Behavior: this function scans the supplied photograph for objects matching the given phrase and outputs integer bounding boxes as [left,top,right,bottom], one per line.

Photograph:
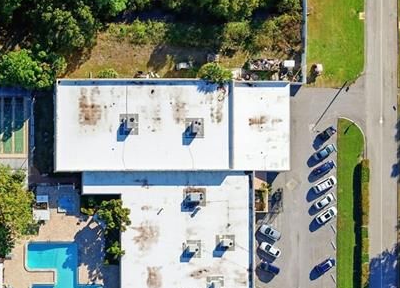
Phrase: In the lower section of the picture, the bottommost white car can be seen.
[259,241,281,258]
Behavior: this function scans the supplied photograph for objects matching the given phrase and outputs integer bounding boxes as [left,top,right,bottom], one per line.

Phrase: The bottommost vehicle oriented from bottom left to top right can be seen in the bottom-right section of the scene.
[313,257,335,274]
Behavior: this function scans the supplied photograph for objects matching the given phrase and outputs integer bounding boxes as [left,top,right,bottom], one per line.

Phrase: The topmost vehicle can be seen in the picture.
[315,124,339,143]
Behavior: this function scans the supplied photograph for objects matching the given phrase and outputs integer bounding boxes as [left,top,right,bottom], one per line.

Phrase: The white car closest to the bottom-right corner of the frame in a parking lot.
[315,206,338,224]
